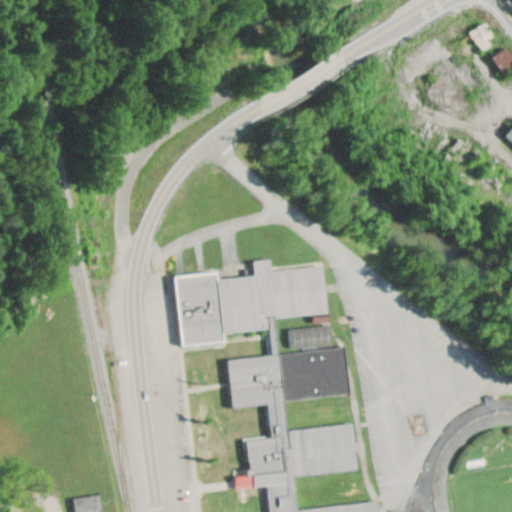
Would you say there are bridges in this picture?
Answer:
Yes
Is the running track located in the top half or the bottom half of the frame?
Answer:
bottom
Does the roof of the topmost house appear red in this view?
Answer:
No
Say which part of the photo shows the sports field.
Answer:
bottom right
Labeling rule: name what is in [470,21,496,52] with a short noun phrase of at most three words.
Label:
house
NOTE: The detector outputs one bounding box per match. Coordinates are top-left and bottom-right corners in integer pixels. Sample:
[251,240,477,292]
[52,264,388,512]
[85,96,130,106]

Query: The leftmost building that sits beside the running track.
[174,259,378,512]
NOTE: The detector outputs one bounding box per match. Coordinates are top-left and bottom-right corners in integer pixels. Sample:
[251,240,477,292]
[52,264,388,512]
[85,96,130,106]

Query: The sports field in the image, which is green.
[447,425,512,512]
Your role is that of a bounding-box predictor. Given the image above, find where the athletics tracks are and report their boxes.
[406,398,512,512]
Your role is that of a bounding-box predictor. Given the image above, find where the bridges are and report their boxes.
[276,50,349,104]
